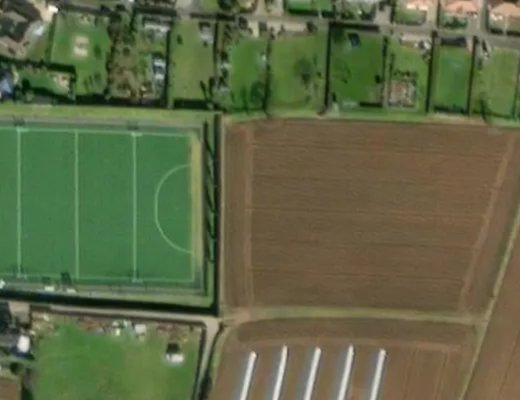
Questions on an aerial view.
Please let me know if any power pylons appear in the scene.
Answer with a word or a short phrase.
No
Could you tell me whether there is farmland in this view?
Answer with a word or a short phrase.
Yes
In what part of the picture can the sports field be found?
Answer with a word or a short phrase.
left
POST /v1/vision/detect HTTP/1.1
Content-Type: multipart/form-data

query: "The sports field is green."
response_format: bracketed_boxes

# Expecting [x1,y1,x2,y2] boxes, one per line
[0,117,204,290]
